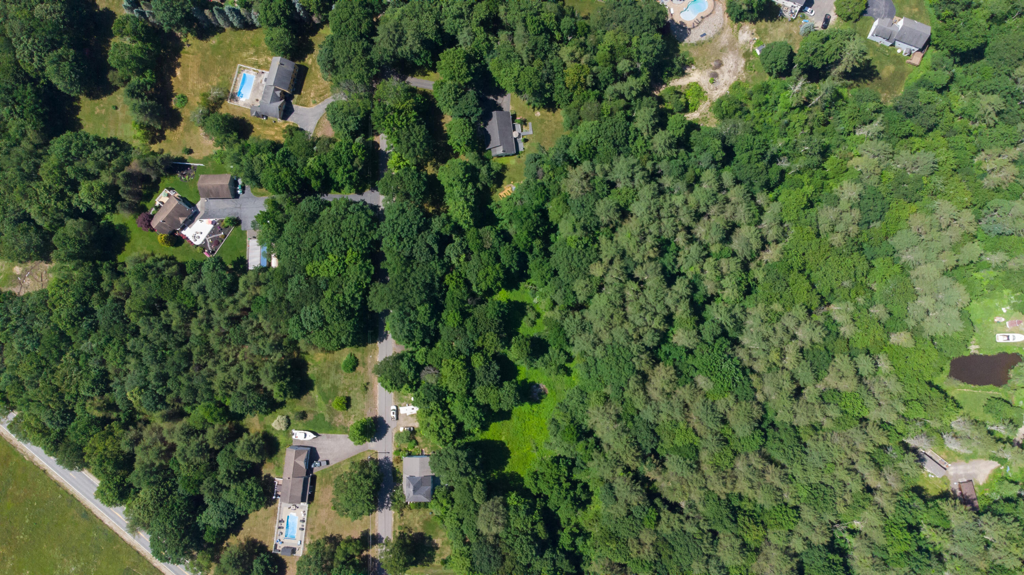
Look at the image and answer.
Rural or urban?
rural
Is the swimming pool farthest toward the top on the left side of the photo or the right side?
right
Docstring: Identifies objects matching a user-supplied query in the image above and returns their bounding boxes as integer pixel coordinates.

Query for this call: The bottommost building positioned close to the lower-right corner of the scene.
[955,477,980,512]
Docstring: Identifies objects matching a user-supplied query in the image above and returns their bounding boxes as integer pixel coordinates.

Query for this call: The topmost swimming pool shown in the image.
[680,0,709,21]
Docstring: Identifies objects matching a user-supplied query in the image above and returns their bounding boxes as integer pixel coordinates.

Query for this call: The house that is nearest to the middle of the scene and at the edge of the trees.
[482,110,533,157]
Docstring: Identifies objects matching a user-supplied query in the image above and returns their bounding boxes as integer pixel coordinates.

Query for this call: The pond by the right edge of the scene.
[950,352,1019,386]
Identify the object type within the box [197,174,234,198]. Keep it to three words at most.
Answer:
building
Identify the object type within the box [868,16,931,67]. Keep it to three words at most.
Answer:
house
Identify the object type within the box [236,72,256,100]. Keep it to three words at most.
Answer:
swimming pool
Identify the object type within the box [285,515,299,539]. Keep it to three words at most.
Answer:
swimming pool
